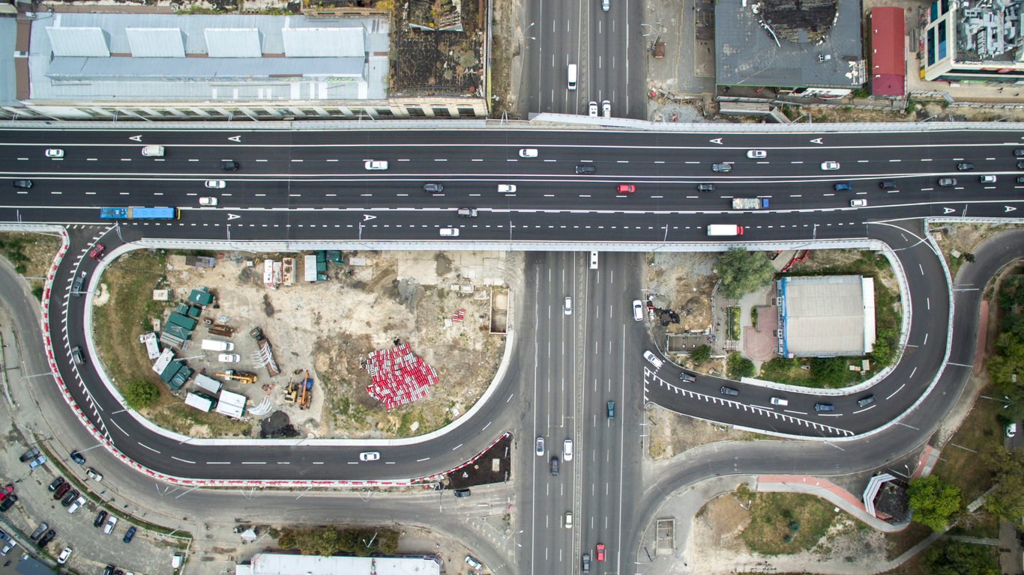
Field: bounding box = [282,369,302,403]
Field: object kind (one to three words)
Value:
work vehicle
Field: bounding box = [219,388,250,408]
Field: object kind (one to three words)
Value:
building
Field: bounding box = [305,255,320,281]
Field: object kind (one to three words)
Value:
building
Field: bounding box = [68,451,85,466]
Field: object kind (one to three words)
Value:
car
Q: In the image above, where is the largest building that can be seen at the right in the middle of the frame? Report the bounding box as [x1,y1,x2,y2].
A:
[770,276,863,358]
